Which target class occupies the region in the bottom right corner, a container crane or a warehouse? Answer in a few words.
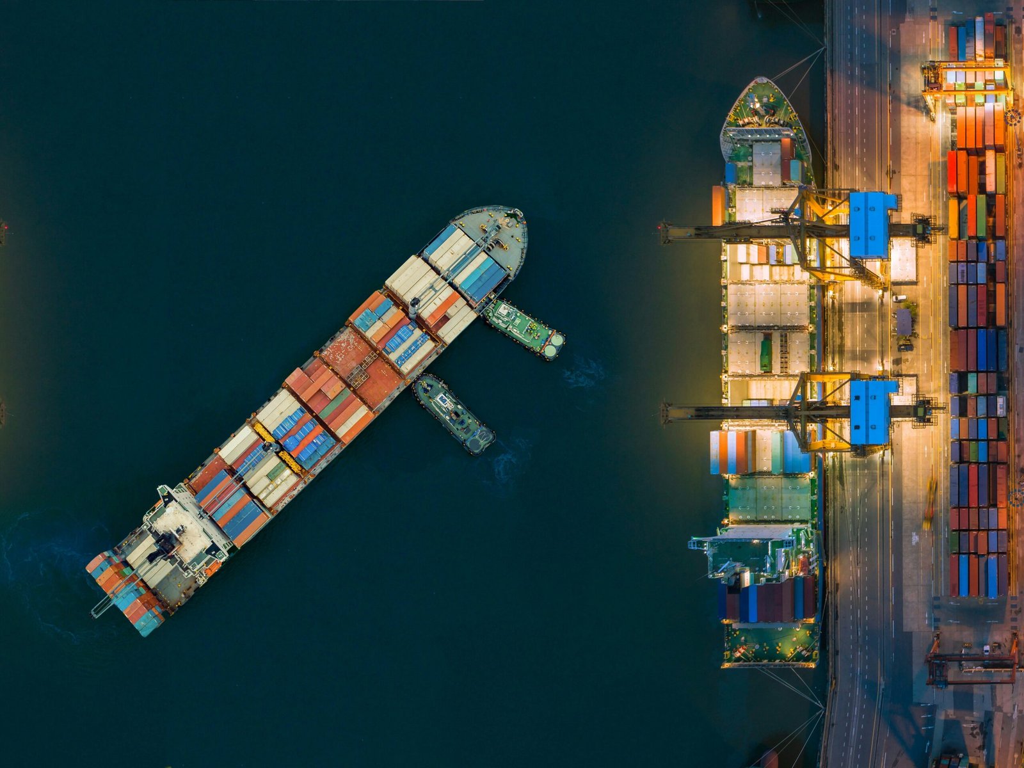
container crane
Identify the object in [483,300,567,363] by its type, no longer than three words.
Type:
boat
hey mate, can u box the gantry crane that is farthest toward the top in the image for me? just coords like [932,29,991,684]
[921,61,1012,124]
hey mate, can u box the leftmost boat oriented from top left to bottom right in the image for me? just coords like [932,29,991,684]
[410,372,498,457]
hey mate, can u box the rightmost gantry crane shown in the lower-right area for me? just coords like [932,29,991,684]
[925,632,1020,688]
